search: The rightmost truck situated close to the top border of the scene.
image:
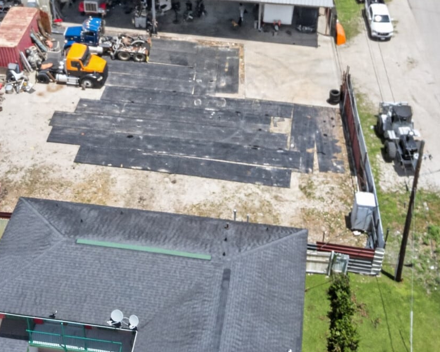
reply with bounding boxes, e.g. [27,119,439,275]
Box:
[365,0,401,41]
